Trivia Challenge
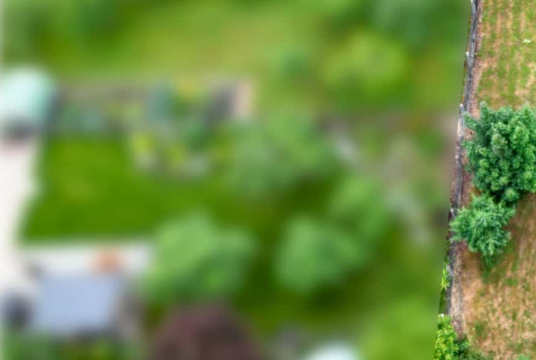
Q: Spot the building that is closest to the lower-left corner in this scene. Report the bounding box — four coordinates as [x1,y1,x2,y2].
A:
[32,276,139,342]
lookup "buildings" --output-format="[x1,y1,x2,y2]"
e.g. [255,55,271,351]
[0,77,65,140]
[32,276,139,342]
